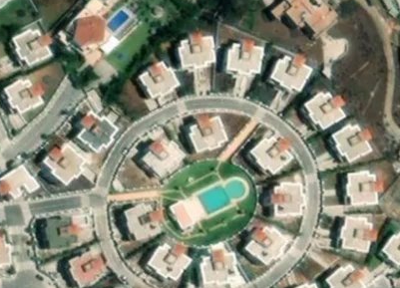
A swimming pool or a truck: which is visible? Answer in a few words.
swimming pool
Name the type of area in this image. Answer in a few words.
residential area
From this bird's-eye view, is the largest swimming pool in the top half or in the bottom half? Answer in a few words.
bottom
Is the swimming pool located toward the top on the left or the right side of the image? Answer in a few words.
left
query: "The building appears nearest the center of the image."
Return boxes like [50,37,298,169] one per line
[189,116,232,157]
